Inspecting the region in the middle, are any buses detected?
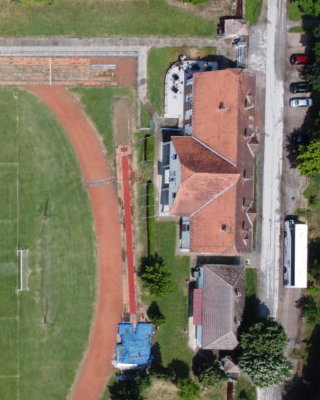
No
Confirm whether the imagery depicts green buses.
No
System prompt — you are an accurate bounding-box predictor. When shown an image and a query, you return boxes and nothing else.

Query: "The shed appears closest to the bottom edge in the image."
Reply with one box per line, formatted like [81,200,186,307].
[214,355,240,376]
